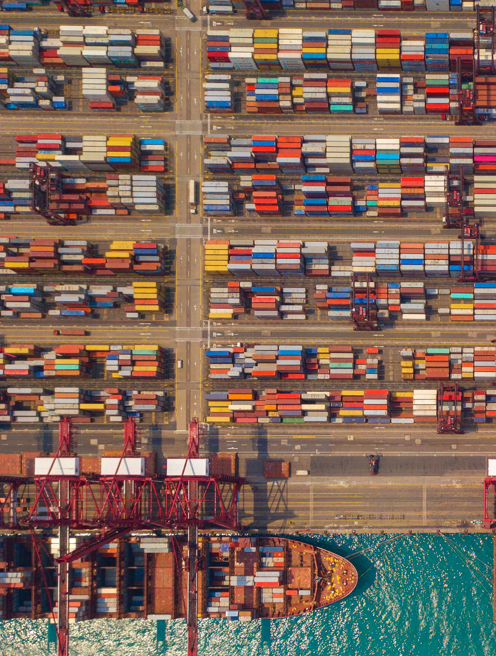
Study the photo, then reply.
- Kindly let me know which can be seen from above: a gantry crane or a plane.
gantry crane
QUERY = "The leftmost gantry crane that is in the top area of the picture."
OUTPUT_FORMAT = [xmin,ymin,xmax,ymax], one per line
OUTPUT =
[32,162,72,224]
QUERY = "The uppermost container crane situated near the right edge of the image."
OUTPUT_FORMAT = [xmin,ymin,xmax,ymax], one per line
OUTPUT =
[472,6,496,74]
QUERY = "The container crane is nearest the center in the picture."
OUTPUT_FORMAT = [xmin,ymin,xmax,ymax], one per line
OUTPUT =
[351,272,380,330]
